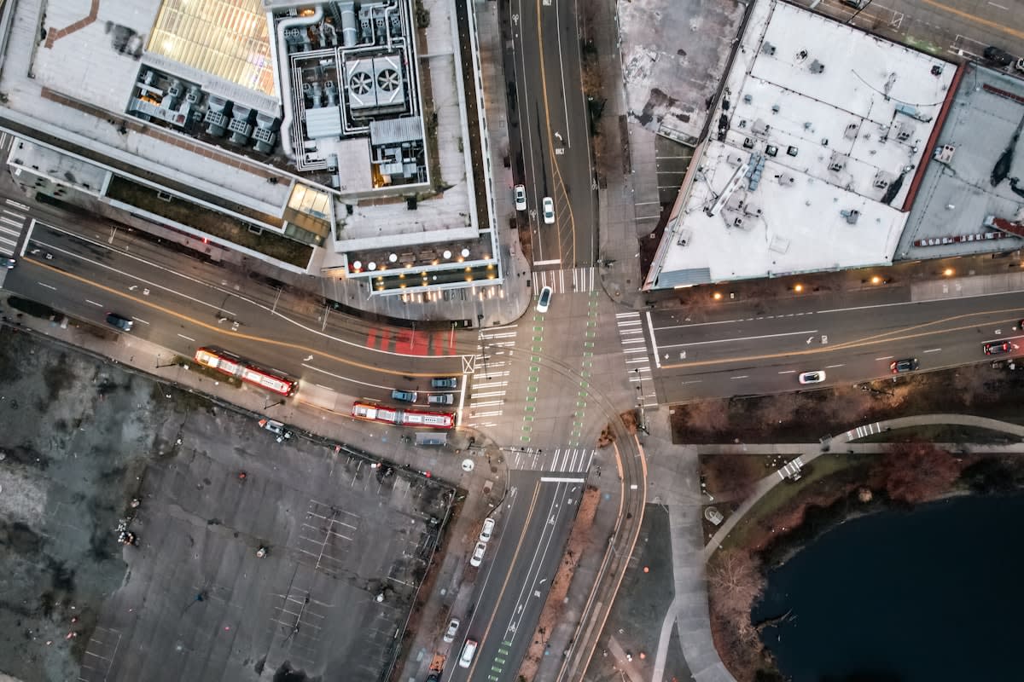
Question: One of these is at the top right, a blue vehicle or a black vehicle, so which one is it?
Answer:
black vehicle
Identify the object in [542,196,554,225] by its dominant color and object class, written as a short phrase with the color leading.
white vehicle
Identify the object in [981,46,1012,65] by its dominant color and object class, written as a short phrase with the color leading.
black car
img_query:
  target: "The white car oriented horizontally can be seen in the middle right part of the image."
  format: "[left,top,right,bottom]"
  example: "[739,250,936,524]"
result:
[798,370,826,383]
